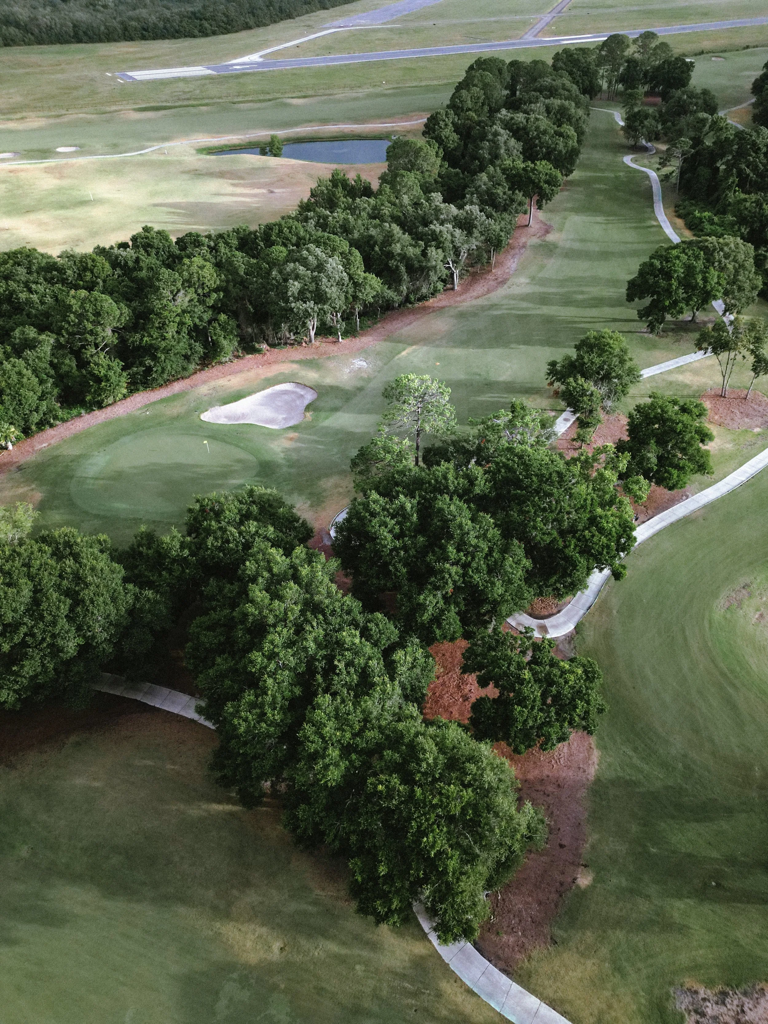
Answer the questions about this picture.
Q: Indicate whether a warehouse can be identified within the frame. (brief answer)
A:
No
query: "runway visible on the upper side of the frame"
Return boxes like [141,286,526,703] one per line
[116,19,768,81]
